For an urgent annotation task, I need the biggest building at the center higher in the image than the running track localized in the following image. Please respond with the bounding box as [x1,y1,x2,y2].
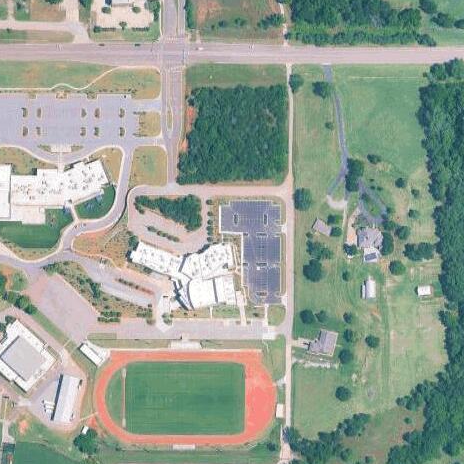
[131,241,237,311]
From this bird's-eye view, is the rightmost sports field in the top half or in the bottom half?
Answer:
bottom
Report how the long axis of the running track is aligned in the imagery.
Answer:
horizontally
